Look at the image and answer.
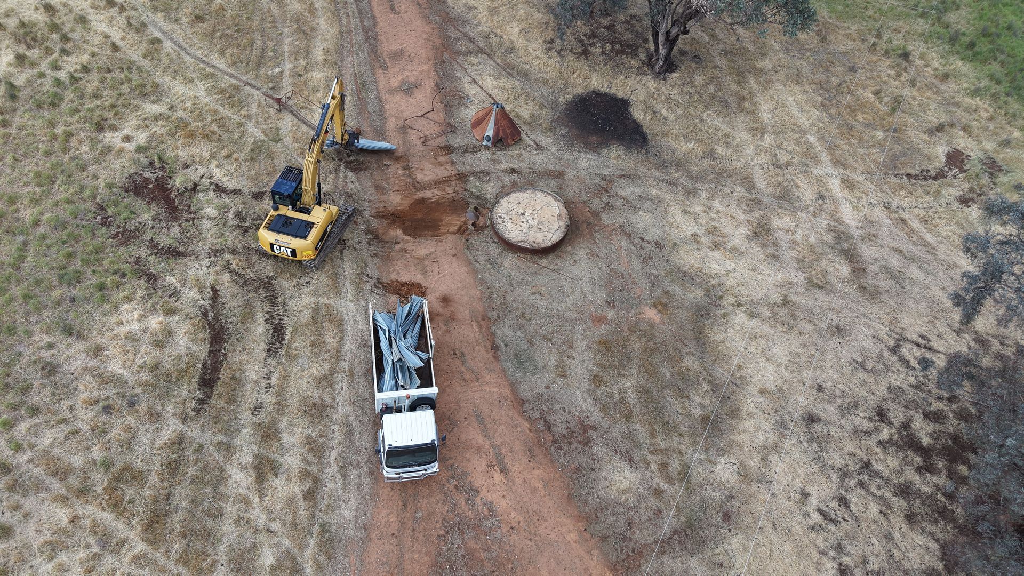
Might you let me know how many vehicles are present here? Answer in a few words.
2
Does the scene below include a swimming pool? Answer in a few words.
No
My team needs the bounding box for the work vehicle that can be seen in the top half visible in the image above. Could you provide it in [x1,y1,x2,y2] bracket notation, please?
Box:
[258,76,365,273]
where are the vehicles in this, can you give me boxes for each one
[258,76,365,273]
[368,298,445,484]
